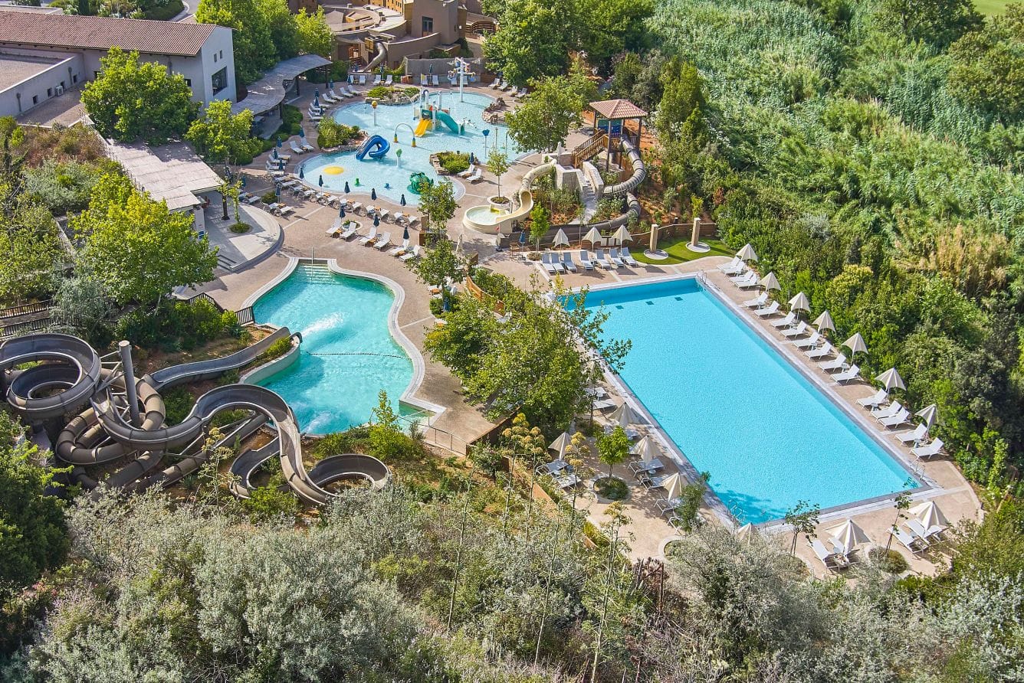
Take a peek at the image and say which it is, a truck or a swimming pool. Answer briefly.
swimming pool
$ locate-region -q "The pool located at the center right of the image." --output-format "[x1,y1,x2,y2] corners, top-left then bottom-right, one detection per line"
[550,270,959,552]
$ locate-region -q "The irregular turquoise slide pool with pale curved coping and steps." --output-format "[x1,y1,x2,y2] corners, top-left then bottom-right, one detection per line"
[240,257,451,453]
